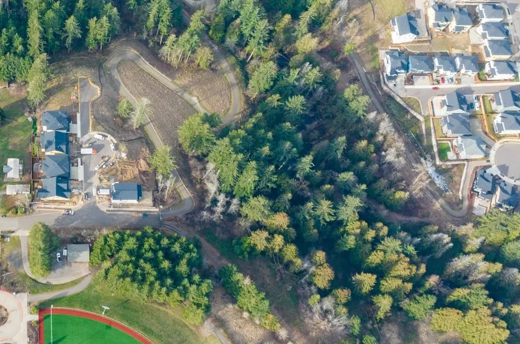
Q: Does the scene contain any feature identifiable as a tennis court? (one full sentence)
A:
No, the frame has no tennis court in it.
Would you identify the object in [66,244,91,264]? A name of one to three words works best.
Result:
shed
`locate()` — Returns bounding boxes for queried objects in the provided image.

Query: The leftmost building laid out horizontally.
[6,184,31,196]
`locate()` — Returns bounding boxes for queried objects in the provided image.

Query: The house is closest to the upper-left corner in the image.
[44,110,68,133]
